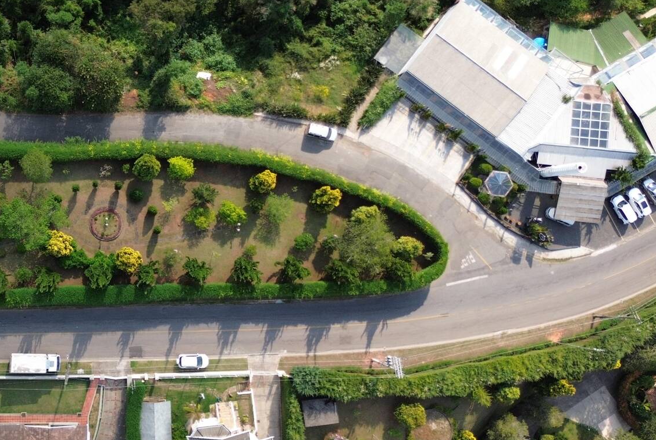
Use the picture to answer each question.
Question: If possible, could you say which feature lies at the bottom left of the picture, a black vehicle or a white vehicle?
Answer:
white vehicle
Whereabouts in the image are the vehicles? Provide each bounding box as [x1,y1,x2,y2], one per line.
[612,199,636,225]
[539,209,570,228]
[639,177,656,204]
[624,188,652,217]
[305,124,336,141]
[10,354,61,373]
[177,354,209,370]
